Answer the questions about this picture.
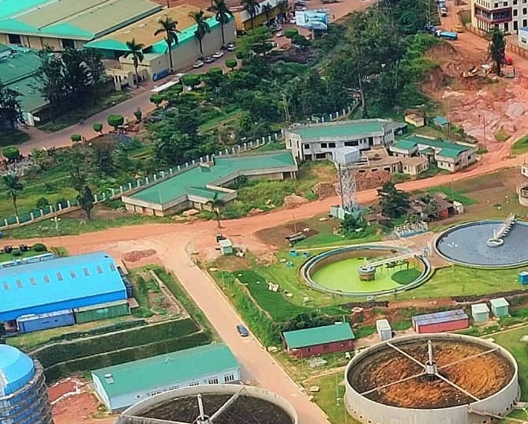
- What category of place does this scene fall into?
industrial area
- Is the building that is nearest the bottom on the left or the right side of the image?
left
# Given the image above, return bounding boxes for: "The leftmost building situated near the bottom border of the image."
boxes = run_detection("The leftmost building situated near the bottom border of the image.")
[89,343,240,412]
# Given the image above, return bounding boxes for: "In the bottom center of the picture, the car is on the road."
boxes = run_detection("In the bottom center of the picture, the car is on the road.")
[235,322,248,335]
